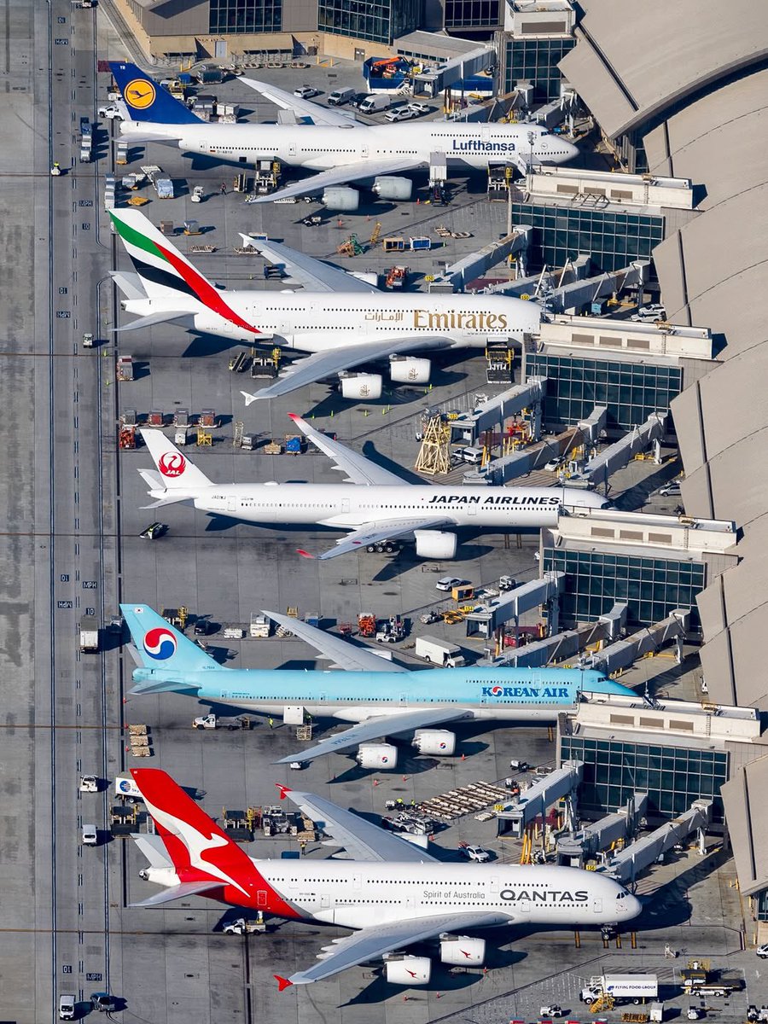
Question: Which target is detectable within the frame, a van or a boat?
van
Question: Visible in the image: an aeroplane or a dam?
aeroplane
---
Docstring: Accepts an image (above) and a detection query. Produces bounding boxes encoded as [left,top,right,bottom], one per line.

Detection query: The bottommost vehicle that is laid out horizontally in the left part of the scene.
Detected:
[83,992,124,1009]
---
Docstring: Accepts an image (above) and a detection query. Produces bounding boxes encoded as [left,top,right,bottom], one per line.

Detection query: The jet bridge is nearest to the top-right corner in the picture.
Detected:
[530,106,601,163]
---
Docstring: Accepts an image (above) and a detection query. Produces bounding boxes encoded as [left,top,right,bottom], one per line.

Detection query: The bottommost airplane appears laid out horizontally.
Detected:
[130,769,639,990]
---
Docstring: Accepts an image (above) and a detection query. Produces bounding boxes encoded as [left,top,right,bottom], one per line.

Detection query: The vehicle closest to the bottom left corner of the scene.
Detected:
[59,989,74,1019]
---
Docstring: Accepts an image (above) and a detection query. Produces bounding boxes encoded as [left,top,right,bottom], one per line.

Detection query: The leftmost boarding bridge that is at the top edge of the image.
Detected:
[410,46,486,120]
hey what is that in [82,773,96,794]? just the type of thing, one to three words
vehicle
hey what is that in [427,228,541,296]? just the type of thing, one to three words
jet bridge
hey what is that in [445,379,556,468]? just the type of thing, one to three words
jet bridge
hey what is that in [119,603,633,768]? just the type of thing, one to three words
airplane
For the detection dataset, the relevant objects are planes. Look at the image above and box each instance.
[138,414,616,561]
[119,603,633,768]
[130,769,639,990]
[109,62,576,209]
[108,208,547,400]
